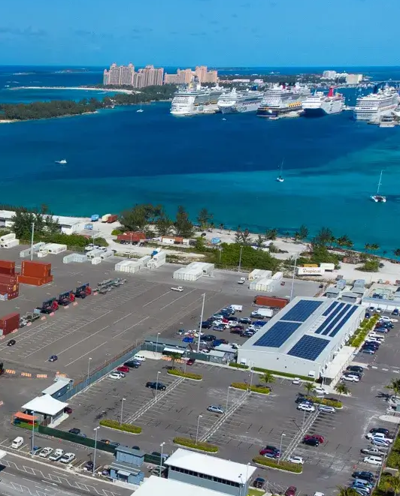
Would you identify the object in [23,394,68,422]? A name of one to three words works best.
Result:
building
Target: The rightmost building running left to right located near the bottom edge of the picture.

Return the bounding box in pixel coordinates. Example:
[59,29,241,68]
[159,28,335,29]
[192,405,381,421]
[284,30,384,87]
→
[161,448,264,496]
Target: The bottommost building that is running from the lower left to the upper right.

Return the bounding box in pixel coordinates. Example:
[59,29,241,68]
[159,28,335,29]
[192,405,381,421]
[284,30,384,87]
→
[39,371,72,396]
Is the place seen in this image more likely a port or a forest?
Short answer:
port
